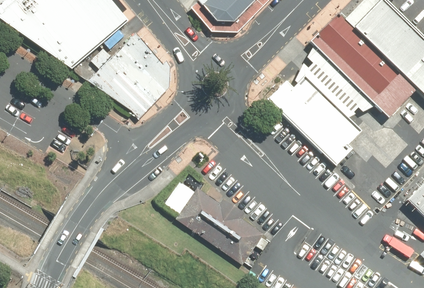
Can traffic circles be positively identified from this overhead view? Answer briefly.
No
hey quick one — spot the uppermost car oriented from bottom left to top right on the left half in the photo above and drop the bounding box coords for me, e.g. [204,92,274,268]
[153,144,168,158]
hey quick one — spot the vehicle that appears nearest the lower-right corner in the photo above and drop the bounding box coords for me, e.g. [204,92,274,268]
[409,261,424,274]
